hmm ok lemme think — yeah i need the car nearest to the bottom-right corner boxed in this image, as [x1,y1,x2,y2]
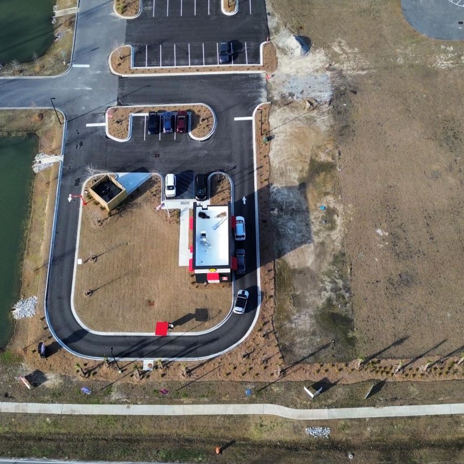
[234,289,250,318]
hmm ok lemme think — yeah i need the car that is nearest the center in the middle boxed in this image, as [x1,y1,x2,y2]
[235,219,247,244]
